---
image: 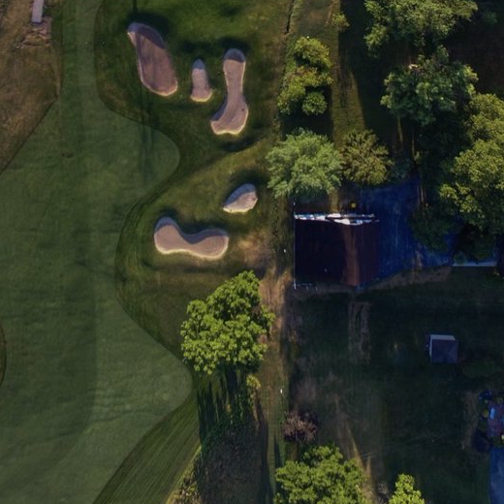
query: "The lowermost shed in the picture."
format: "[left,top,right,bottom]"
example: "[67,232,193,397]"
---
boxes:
[428,334,457,364]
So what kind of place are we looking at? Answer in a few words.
golf course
